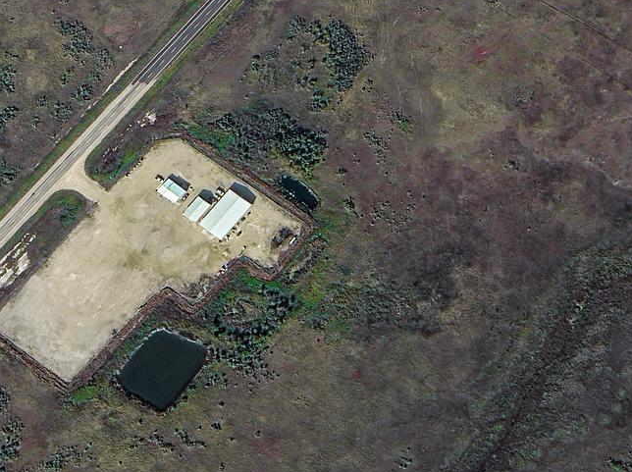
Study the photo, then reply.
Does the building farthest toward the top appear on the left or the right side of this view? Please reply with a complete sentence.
The building farthest toward the top is on the left side of the image.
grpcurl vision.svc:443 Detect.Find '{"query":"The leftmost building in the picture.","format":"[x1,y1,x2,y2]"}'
[158,176,186,204]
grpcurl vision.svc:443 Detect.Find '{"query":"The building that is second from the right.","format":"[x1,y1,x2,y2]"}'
[184,195,211,223]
